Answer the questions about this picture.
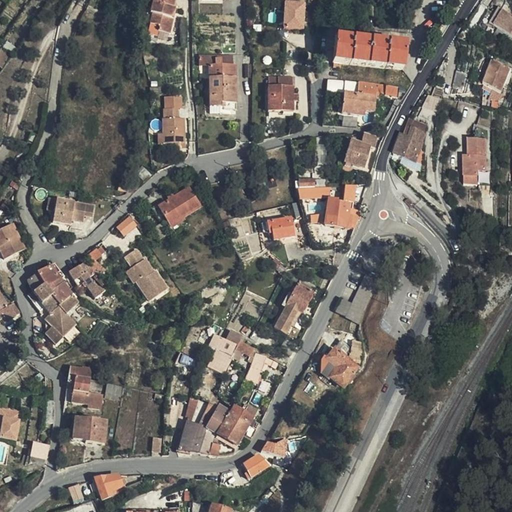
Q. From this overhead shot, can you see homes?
Yes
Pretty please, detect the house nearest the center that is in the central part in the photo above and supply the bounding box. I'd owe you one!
[268,216,296,244]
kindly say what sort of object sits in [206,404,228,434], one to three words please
house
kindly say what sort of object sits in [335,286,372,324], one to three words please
building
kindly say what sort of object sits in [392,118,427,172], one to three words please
house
